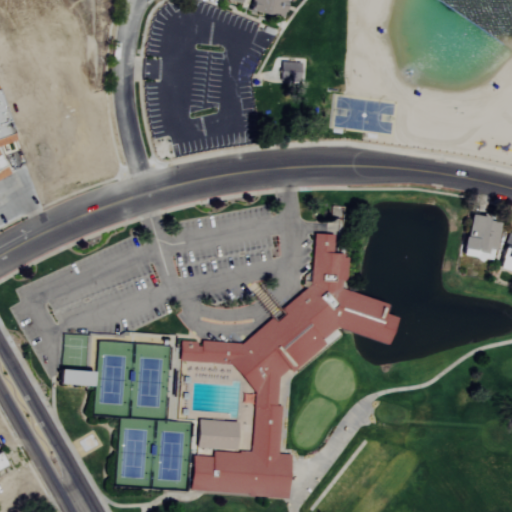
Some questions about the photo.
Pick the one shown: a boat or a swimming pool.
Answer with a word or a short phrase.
swimming pool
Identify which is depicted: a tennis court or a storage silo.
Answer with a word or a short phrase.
tennis court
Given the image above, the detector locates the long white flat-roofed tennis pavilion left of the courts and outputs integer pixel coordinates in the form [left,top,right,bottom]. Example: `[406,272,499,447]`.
[63,370,98,386]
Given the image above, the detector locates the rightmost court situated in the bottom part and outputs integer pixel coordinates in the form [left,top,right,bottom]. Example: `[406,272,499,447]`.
[152,420,192,490]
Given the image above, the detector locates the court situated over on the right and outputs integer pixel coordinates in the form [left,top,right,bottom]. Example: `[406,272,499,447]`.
[330,93,398,136]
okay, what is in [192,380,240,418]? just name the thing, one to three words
swimming pool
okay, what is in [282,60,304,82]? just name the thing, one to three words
shed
